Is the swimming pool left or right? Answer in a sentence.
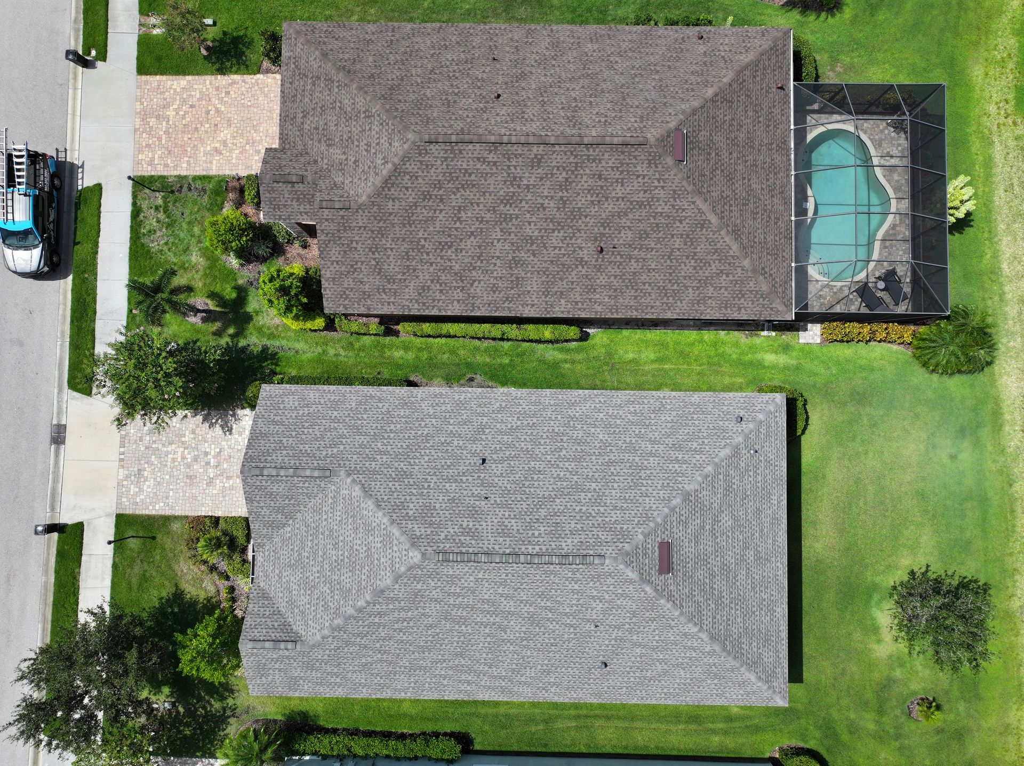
The swimming pool sits on the right side.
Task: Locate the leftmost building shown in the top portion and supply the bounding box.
[258,19,796,323]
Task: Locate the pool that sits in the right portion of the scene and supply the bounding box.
[796,122,898,286]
